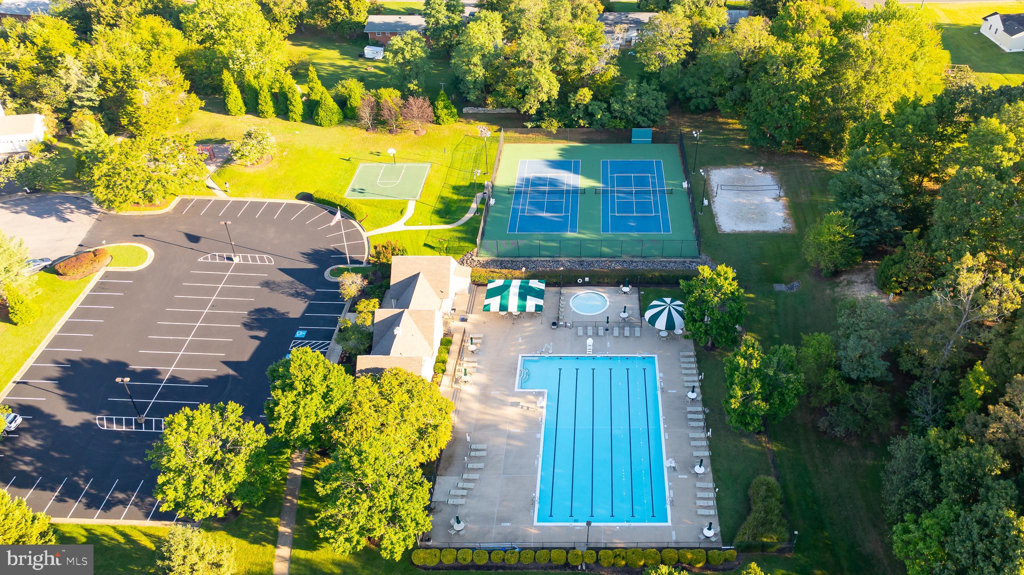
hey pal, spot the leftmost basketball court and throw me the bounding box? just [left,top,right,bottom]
[346,162,431,200]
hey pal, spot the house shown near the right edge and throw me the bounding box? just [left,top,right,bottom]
[980,10,1024,52]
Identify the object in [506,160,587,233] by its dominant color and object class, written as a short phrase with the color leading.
blue tennis court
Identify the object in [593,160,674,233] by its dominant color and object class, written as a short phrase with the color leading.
blue tennis court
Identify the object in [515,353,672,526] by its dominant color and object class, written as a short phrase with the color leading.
blue swimming pool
